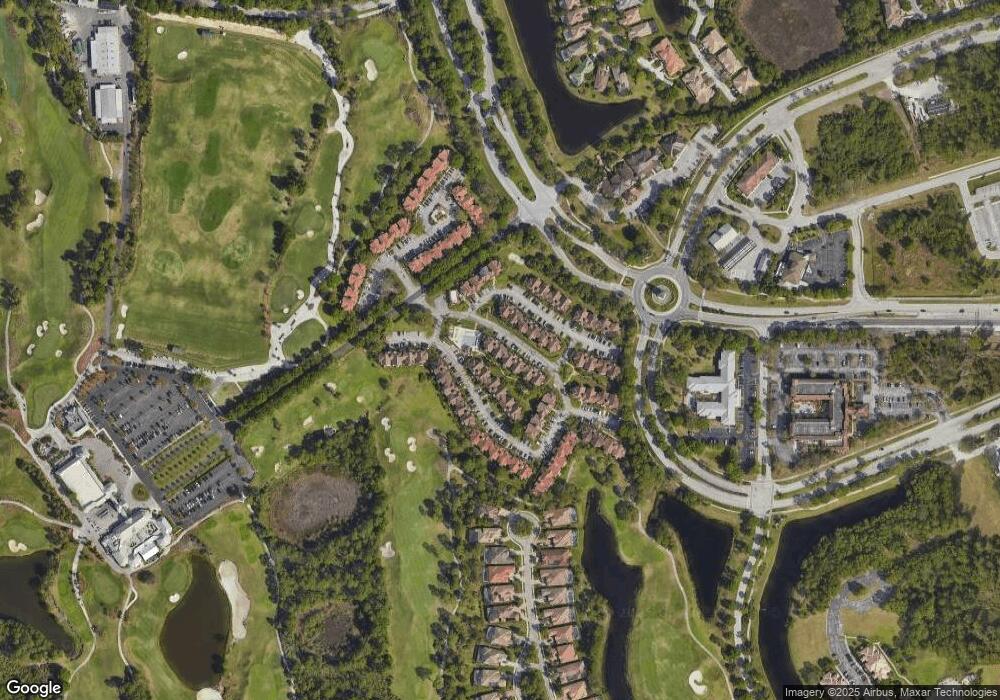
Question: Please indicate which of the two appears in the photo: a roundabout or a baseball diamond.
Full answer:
I can see a roundabout in this picture.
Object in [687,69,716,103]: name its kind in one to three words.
house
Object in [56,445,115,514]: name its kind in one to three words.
building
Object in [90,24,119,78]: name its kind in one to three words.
shed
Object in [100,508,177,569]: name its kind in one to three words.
building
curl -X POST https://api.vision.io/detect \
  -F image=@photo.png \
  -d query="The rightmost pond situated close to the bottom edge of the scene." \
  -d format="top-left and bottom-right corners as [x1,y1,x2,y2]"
[158,555,231,692]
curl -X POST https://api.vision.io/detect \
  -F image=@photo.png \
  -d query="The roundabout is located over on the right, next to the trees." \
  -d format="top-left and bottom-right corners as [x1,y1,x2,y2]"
[633,266,690,323]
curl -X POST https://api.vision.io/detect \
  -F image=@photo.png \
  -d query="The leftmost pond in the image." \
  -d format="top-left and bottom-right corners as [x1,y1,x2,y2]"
[0,548,78,659]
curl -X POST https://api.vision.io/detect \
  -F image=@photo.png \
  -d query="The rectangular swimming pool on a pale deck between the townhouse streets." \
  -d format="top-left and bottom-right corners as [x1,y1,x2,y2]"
[454,326,479,350]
